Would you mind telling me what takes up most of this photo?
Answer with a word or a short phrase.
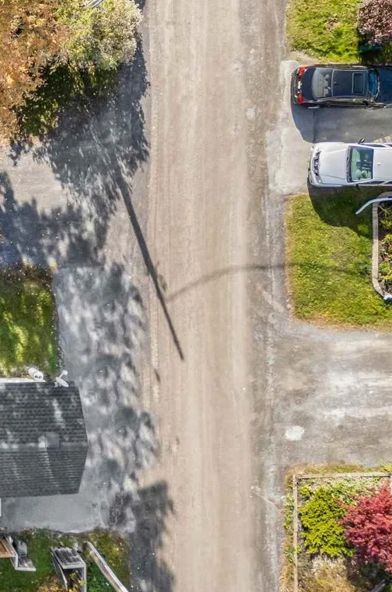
paved ground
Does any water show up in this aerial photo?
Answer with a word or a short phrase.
No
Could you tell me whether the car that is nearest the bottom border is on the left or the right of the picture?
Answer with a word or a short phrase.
right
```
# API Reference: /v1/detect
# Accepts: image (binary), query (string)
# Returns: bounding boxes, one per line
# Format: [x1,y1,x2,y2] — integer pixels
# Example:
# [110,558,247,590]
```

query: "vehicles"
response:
[304,134,392,194]
[289,57,392,115]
